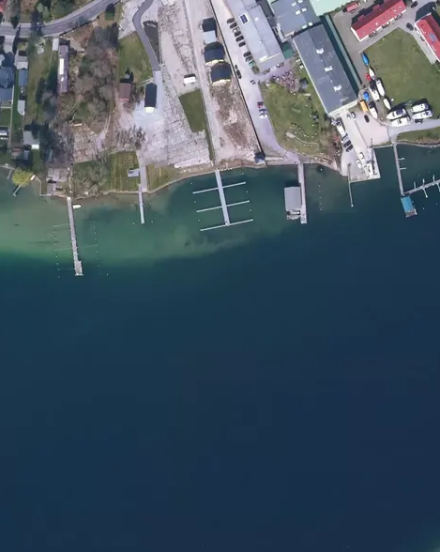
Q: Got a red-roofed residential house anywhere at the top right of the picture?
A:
Yes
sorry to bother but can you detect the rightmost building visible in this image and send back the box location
[415,14,440,59]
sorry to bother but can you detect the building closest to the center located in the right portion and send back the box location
[284,187,302,211]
